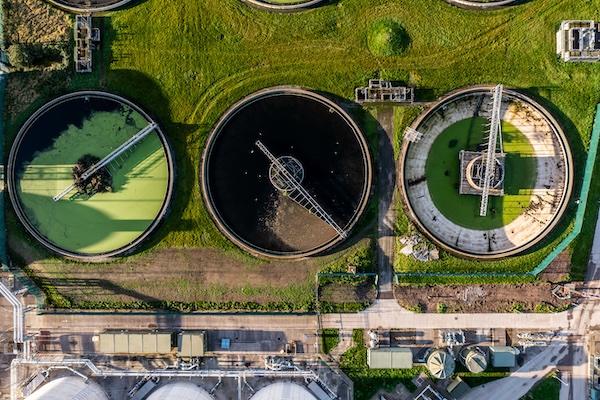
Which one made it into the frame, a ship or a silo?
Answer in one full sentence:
This aerial view contains a silo.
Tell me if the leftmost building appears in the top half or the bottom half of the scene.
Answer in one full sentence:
It is in the bottom half that the leftmost building appears.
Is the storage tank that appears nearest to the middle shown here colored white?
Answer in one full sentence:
No, the storage tank that appears nearest to the middle is black.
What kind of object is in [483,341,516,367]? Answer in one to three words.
building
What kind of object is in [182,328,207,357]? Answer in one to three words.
building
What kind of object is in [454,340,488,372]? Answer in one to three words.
silo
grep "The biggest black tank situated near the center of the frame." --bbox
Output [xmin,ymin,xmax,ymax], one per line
[202,87,372,258]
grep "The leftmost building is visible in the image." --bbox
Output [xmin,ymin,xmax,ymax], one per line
[100,330,175,353]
